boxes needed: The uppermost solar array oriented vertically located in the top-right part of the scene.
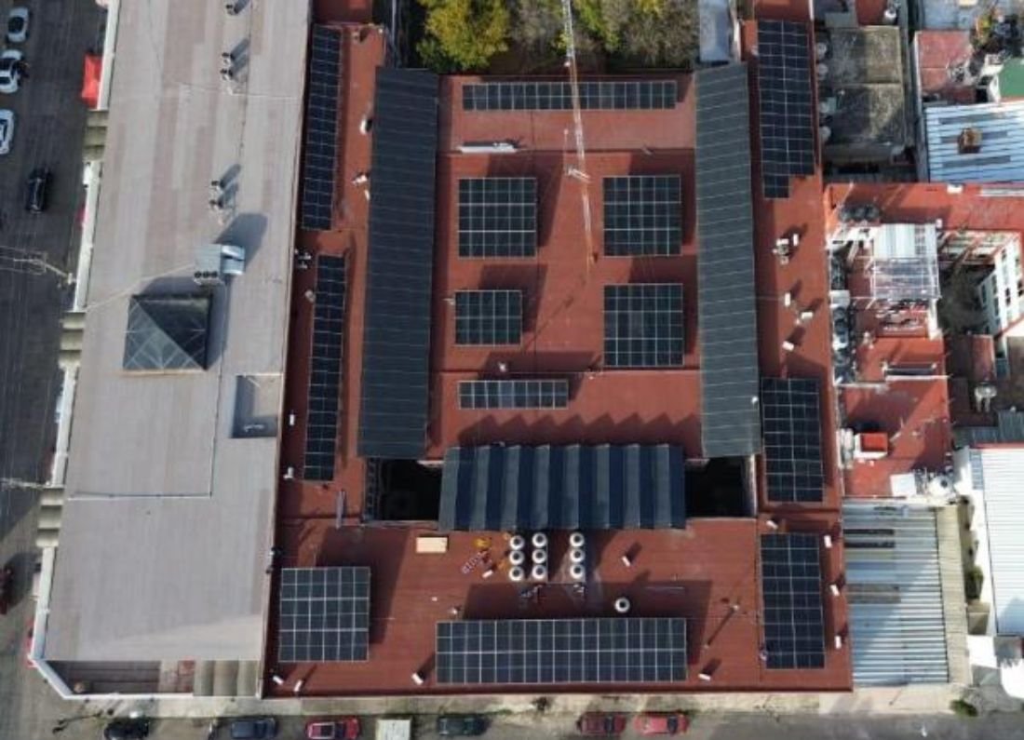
[756,21,815,197]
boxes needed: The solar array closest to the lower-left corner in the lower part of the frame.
[279,564,377,662]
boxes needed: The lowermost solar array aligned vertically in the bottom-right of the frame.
[758,534,827,668]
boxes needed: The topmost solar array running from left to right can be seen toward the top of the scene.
[463,81,677,118]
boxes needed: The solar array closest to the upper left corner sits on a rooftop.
[305,25,340,229]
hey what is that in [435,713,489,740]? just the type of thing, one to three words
car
